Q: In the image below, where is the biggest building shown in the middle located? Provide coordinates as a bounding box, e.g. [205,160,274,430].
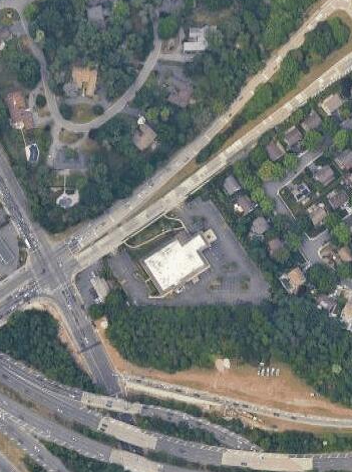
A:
[144,235,205,291]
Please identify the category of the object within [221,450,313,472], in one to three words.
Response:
bridge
